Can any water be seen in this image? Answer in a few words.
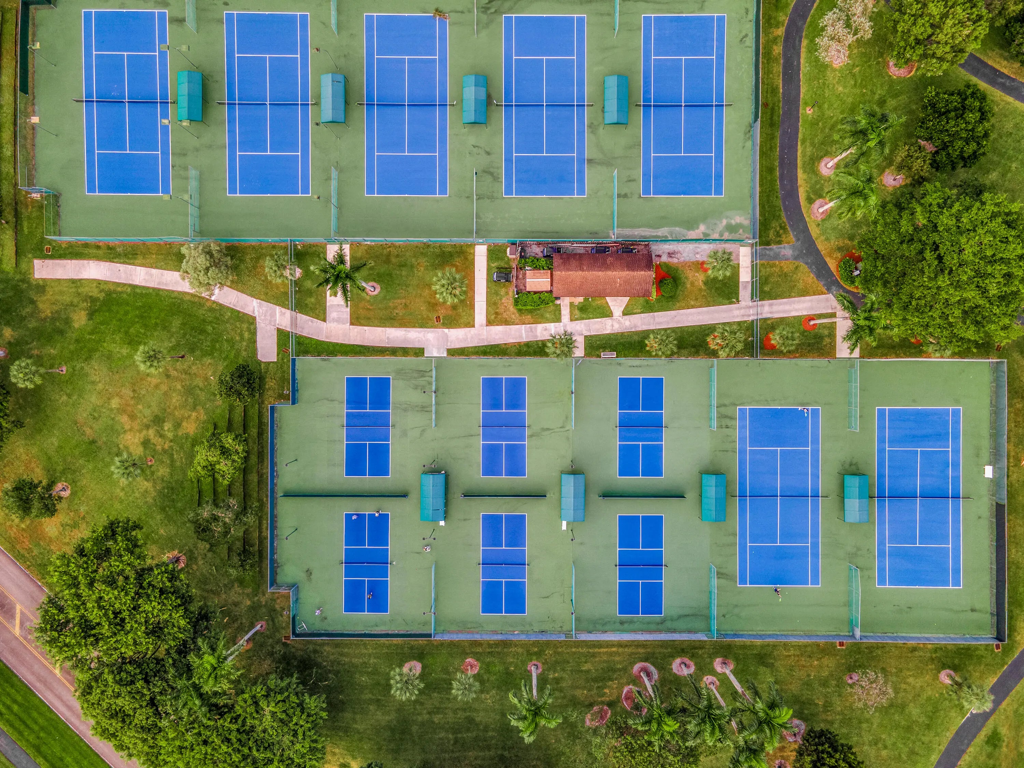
No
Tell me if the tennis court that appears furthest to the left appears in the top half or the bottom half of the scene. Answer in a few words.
top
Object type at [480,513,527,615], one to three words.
sports court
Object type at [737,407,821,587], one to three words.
tennis court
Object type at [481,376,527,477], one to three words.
sports court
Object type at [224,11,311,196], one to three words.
tennis court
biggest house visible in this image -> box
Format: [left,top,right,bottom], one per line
[553,253,654,297]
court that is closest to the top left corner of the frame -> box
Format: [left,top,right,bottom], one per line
[82,10,172,195]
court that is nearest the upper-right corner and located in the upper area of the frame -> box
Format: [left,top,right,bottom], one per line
[641,14,727,197]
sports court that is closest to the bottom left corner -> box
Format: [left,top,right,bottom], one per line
[343,513,390,614]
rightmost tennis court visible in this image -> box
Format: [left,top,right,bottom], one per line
[875,407,963,588]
